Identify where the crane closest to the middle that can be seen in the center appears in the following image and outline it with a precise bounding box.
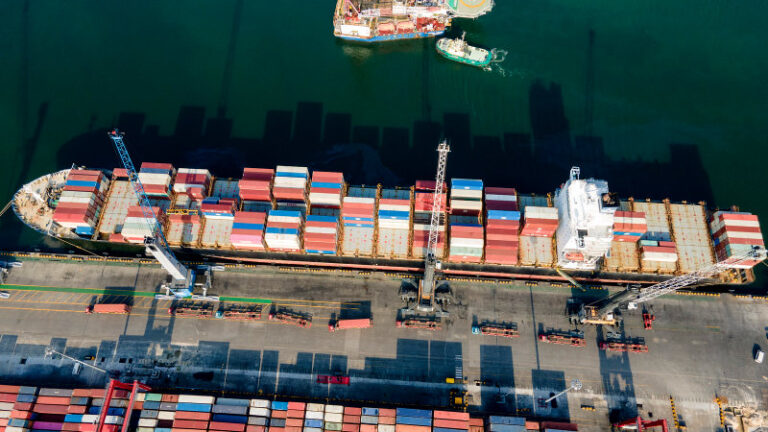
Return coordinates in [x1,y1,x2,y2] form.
[398,136,451,320]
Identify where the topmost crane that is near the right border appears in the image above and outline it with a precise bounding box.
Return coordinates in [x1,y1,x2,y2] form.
[570,240,768,334]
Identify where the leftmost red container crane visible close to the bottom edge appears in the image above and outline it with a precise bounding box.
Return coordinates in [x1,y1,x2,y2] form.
[94,378,161,432]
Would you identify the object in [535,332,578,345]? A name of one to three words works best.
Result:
vehicle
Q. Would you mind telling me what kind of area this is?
port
